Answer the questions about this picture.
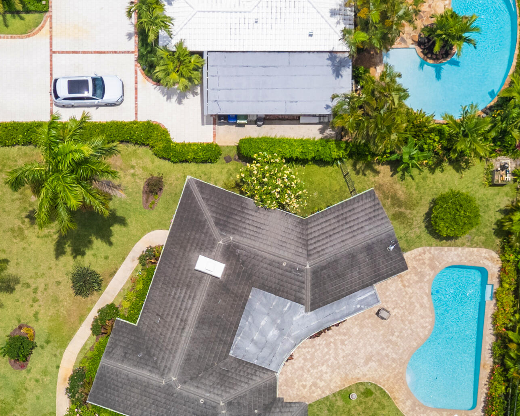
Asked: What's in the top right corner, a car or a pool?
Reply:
pool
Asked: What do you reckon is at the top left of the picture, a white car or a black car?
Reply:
white car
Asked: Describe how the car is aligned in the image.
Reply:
from side to side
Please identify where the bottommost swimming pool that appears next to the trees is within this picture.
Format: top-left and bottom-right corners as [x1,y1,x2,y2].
[403,262,492,412]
